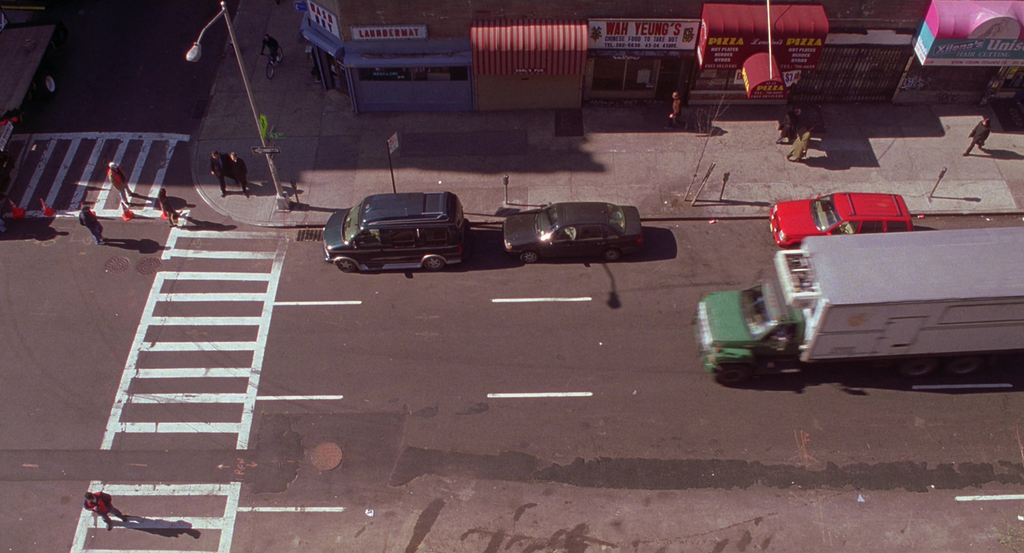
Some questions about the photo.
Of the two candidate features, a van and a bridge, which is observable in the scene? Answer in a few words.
van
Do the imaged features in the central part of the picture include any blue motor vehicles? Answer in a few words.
No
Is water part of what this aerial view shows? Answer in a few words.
No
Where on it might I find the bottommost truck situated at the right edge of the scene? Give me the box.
[696,225,1024,382]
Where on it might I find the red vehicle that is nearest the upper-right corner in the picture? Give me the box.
[764,182,918,254]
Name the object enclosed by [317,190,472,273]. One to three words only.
van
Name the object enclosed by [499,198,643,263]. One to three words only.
car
